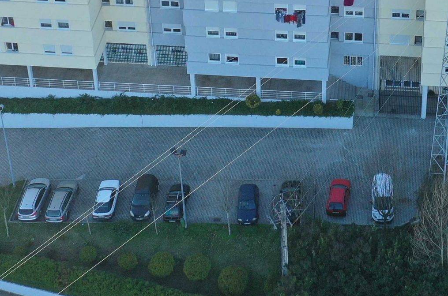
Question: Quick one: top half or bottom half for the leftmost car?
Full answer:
The bottom half of the photo is where the leftmost car is.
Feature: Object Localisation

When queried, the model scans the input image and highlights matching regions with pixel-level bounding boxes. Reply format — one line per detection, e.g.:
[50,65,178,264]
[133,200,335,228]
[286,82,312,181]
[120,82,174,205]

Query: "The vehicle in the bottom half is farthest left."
[13,179,51,222]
